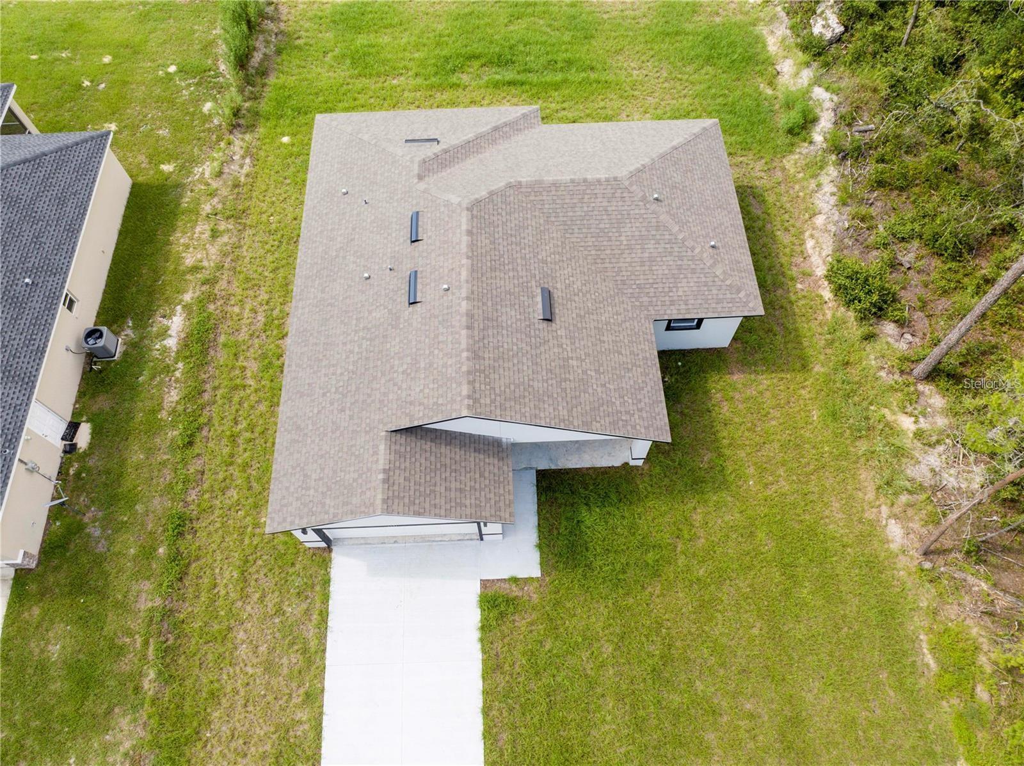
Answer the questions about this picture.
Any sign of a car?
No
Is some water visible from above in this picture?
No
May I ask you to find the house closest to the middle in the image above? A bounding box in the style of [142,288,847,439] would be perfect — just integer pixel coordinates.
[267,105,767,550]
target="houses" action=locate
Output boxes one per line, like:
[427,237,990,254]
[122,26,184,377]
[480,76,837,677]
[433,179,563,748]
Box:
[0,83,133,570]
[267,105,767,550]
